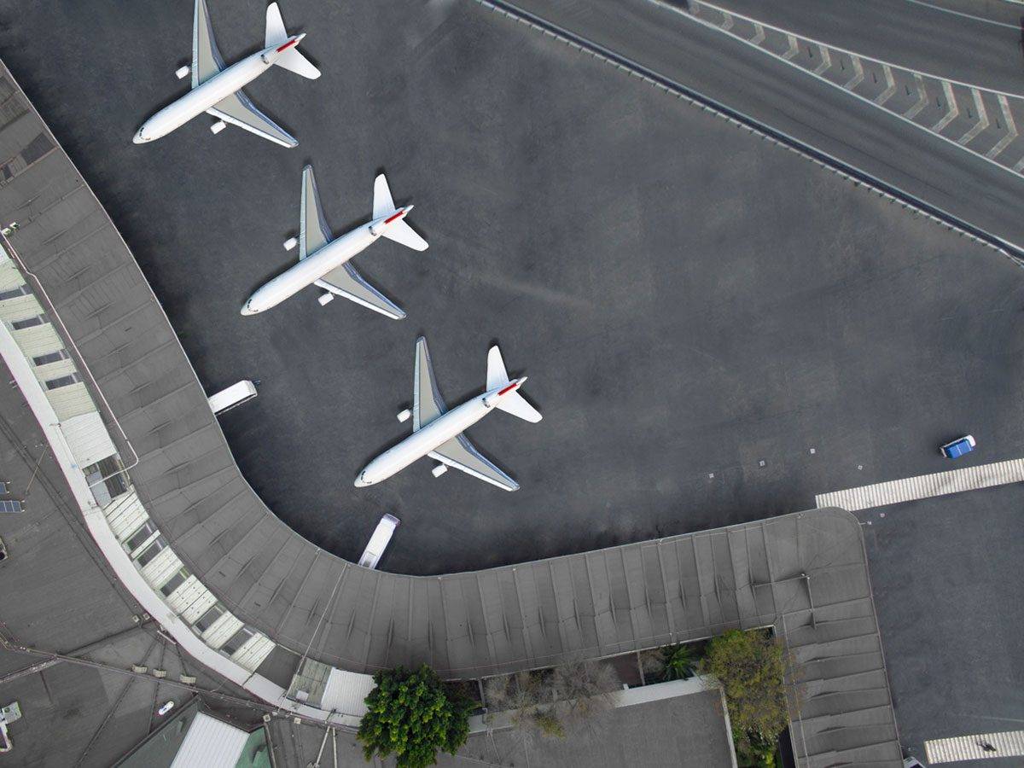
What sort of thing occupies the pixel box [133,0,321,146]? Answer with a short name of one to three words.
airplane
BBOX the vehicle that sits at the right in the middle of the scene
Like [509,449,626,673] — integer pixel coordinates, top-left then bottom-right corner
[940,436,977,461]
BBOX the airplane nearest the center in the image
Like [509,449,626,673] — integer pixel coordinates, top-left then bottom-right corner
[354,333,545,491]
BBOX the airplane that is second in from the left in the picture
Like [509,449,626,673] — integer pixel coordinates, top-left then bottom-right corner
[241,159,430,318]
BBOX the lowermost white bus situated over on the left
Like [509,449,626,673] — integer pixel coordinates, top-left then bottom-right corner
[358,515,401,570]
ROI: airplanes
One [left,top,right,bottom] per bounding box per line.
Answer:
[133,0,321,146]
[241,159,430,318]
[354,333,545,491]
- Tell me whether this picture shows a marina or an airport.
airport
